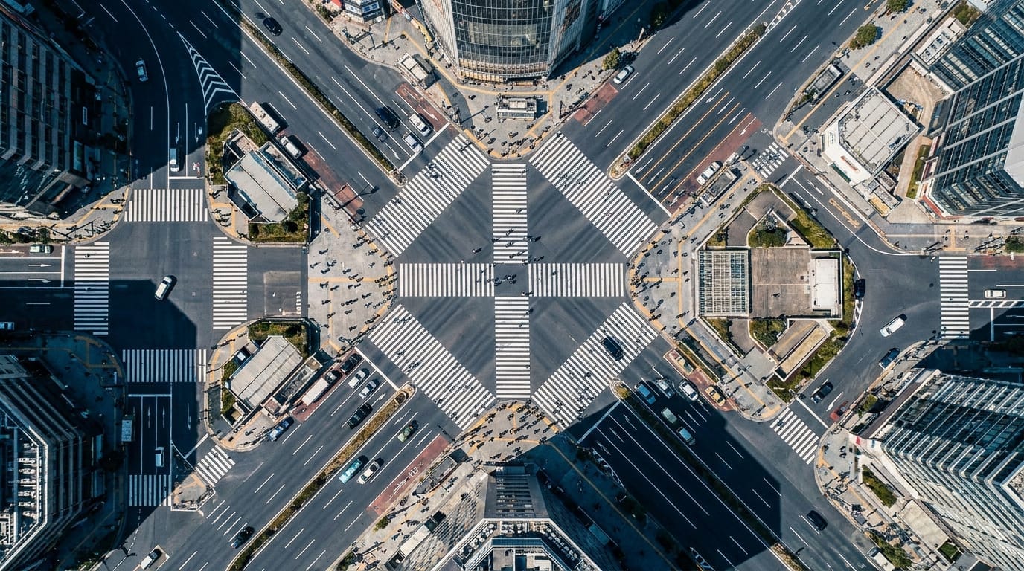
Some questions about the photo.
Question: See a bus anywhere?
Yes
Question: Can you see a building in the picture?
Yes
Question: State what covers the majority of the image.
paved ground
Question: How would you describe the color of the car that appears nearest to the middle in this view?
black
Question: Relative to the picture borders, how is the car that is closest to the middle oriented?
diagonally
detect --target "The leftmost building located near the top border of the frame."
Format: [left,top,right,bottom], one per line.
[0,0,91,218]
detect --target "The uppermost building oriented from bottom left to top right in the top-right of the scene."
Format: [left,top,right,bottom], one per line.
[900,17,966,76]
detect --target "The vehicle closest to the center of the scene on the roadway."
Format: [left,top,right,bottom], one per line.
[599,335,625,362]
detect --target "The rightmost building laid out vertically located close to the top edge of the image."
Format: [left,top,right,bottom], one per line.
[927,0,1024,219]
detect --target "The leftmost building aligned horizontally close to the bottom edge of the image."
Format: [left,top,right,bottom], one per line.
[391,467,617,571]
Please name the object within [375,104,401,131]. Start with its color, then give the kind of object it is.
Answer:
black vehicle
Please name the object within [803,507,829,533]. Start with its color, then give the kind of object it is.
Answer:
black car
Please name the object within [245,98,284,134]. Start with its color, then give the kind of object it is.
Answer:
white bus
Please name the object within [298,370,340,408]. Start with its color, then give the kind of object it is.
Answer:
white truck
